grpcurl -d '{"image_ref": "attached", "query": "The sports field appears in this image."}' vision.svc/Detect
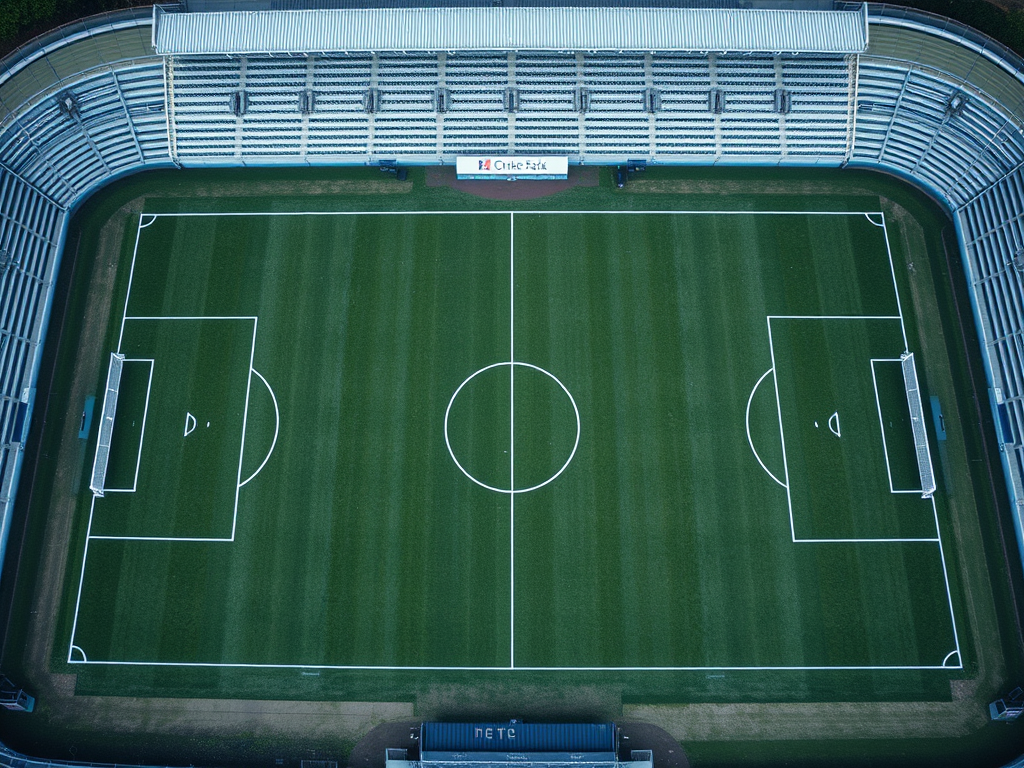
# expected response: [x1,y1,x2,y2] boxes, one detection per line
[64,211,962,669]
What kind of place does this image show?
sports ground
